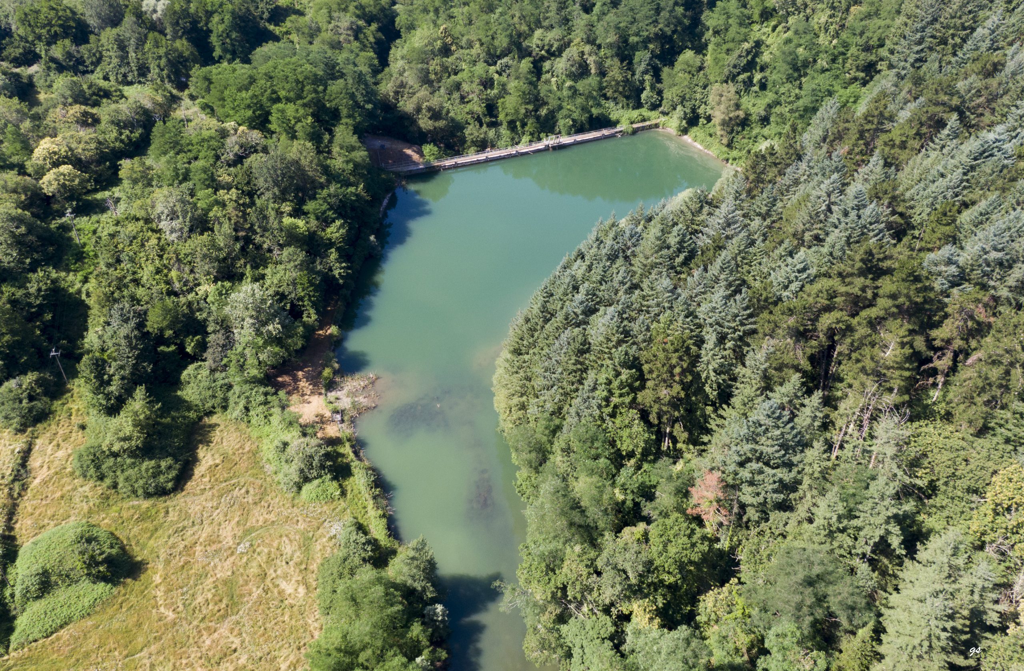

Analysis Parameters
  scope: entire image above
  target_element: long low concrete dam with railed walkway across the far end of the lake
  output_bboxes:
[379,119,661,175]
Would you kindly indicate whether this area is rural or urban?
rural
